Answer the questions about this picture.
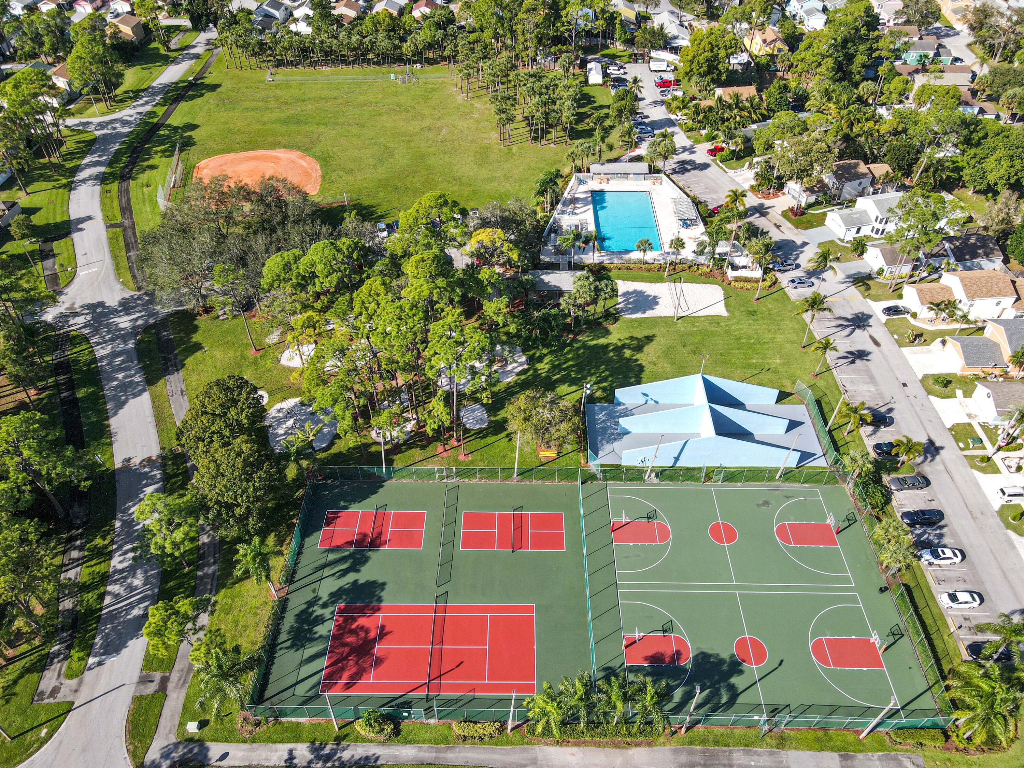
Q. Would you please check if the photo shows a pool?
Yes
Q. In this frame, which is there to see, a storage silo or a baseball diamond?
baseball diamond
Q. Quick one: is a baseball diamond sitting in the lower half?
No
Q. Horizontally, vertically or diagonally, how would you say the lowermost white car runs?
horizontally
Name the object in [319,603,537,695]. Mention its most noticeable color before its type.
red tennis court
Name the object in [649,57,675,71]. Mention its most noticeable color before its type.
white vehicle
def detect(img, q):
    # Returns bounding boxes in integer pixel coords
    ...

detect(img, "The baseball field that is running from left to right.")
[193,150,321,212]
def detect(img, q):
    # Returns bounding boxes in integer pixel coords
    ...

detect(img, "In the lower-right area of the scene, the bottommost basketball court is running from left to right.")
[619,589,906,720]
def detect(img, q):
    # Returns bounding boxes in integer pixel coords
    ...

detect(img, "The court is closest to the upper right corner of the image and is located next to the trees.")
[617,281,728,317]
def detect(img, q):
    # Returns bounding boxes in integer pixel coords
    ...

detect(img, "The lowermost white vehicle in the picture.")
[942,591,985,611]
